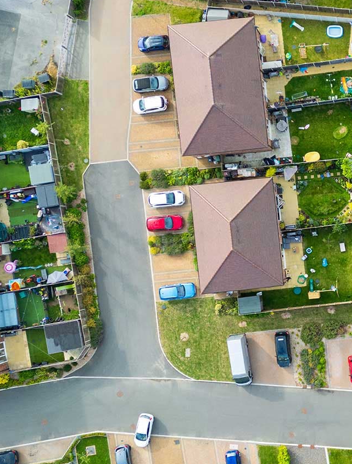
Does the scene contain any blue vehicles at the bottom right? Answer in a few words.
Yes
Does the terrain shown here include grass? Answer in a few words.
Yes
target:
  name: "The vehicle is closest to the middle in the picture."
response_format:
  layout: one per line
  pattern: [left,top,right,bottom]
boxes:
[146,213,184,231]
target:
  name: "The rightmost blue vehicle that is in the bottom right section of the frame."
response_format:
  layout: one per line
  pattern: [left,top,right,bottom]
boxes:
[274,330,292,367]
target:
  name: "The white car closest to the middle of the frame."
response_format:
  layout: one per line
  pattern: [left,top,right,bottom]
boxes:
[147,188,186,208]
